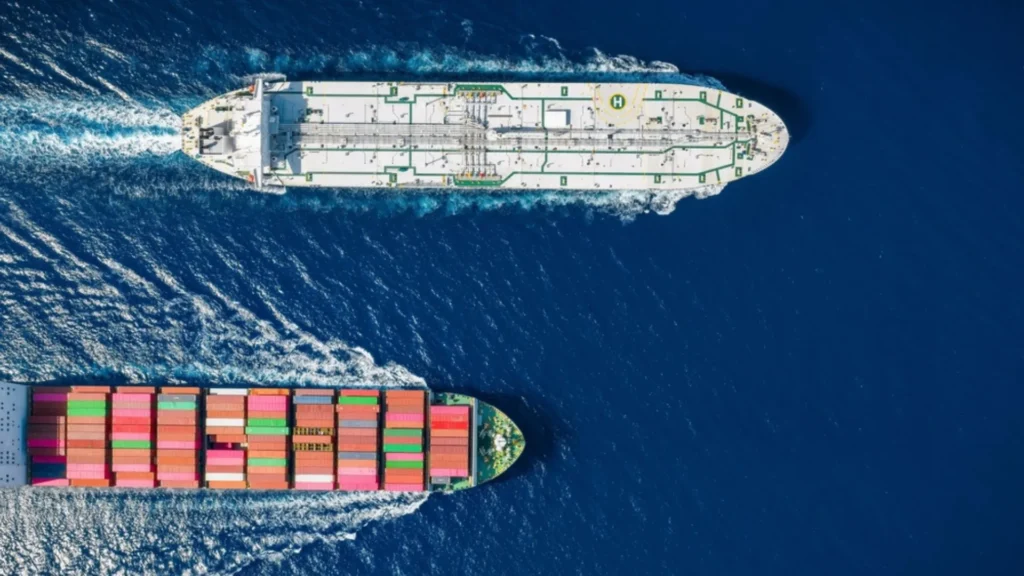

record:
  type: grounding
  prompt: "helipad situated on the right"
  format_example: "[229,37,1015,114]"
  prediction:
[590,85,647,126]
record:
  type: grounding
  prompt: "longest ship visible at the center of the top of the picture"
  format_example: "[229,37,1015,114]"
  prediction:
[182,75,790,193]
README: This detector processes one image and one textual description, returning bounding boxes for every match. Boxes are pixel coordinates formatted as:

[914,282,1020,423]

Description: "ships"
[182,75,790,193]
[0,380,525,491]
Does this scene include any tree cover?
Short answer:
No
